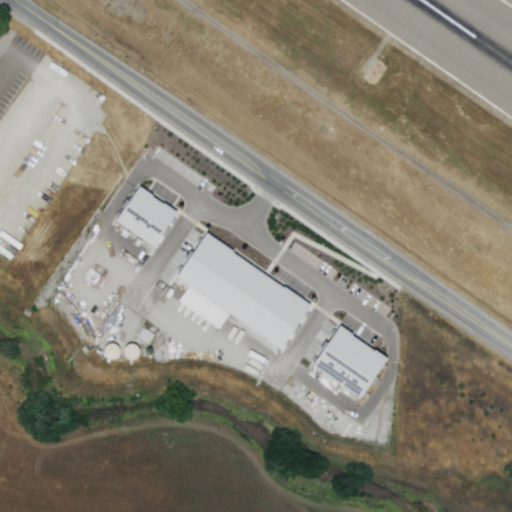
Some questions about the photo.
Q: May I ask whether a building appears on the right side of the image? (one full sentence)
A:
Yes, a building appears on the right side of the image.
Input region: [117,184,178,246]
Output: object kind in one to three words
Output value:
building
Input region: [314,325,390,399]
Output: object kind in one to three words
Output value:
building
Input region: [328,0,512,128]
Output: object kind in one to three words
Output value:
runway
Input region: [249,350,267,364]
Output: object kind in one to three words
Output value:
vehicle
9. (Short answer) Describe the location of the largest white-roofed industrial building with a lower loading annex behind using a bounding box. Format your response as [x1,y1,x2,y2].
[176,232,314,352]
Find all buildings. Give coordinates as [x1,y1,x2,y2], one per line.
[117,184,178,246]
[176,232,314,352]
[138,328,155,345]
[314,325,390,399]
